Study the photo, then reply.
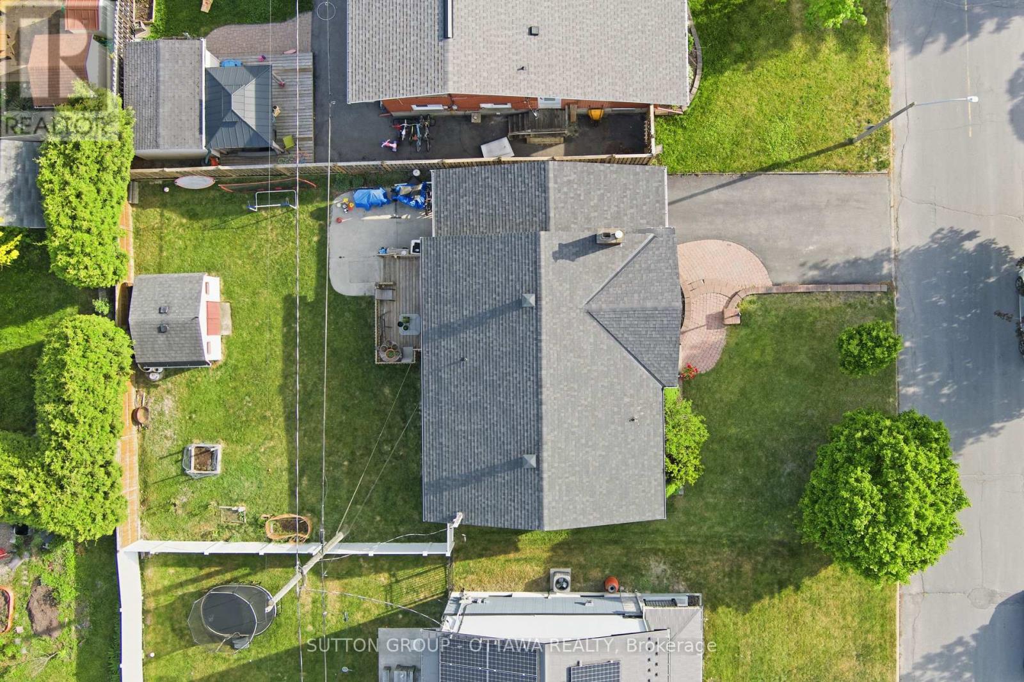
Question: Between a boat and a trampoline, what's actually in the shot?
trampoline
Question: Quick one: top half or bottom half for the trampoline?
bottom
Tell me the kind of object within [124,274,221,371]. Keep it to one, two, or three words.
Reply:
shed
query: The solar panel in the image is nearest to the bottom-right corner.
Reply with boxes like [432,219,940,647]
[571,659,619,682]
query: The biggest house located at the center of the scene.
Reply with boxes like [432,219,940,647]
[419,230,683,531]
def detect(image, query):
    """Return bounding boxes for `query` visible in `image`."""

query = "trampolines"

[188,579,281,655]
